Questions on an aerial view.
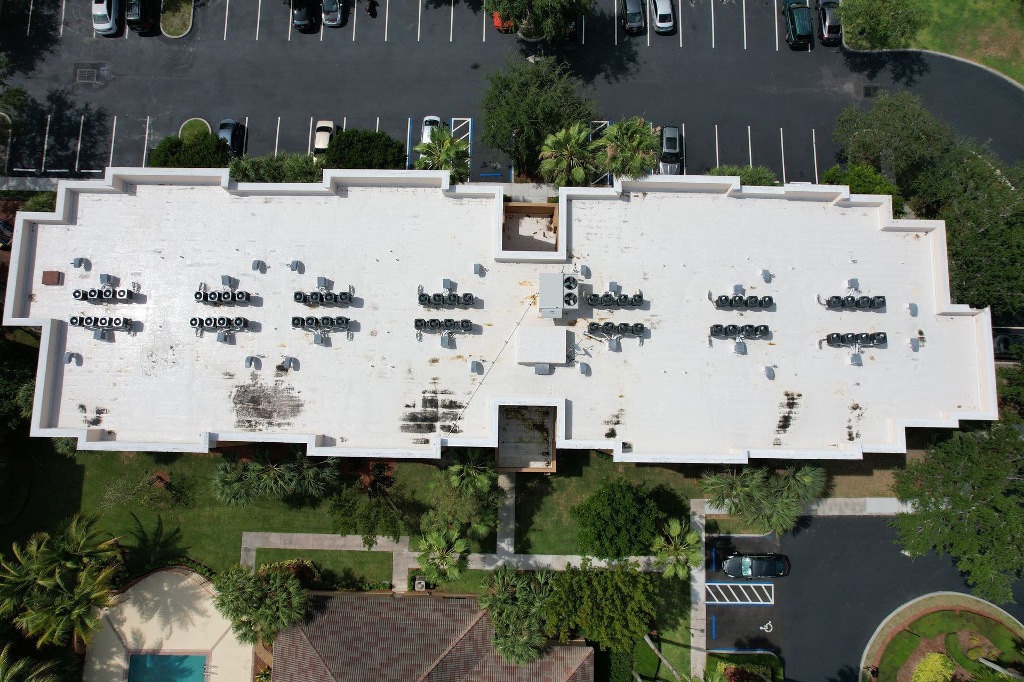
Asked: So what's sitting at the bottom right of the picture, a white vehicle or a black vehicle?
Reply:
black vehicle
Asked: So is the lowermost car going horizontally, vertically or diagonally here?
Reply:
horizontally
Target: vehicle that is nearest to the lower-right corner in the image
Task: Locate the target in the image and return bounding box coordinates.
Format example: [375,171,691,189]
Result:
[728,552,792,581]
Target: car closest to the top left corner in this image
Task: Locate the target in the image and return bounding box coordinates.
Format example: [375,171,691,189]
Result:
[93,0,121,36]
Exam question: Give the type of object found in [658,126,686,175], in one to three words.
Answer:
car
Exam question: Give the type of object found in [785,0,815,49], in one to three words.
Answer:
car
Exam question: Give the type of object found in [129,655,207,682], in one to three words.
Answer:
swimming pool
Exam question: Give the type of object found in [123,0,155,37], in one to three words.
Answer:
truck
